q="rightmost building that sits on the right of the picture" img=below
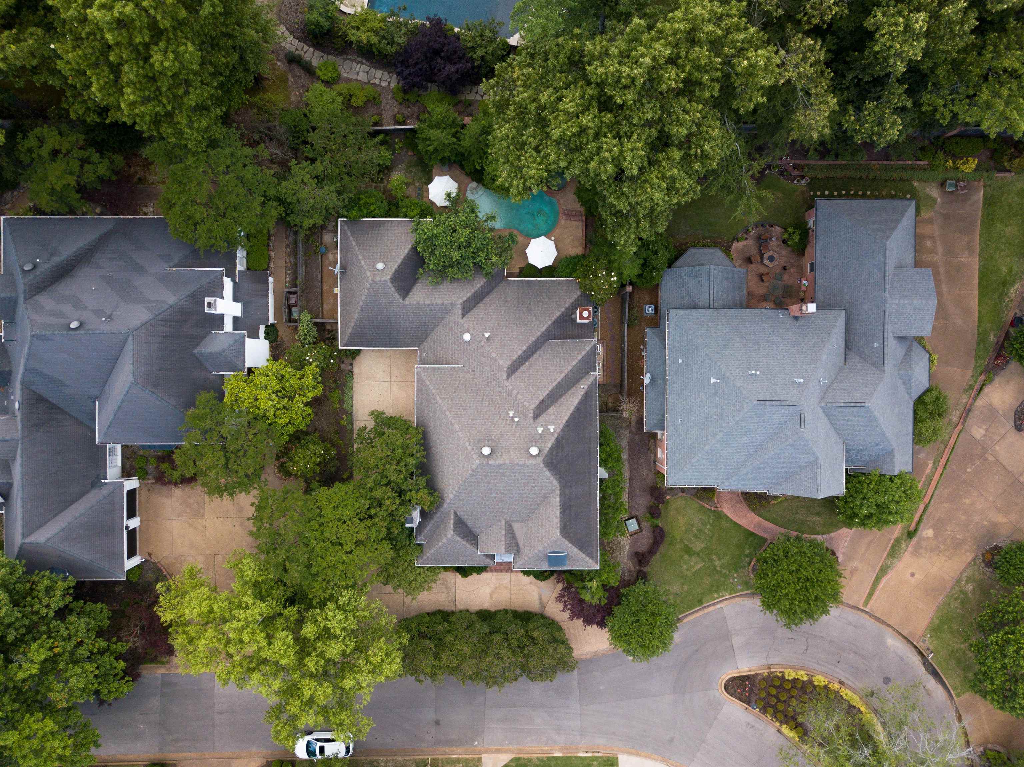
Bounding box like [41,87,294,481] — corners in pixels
[642,198,937,499]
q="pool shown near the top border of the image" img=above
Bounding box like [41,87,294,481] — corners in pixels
[364,0,519,44]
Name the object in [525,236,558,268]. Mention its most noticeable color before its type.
white umbrella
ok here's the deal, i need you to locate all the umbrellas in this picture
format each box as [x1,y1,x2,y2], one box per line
[428,175,458,204]
[525,236,558,268]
